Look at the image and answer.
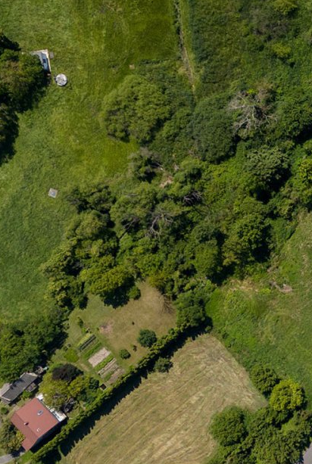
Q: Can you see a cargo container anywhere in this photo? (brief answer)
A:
No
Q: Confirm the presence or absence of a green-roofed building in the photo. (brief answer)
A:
No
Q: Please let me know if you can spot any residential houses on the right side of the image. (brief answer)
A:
No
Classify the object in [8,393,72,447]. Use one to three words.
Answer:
house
